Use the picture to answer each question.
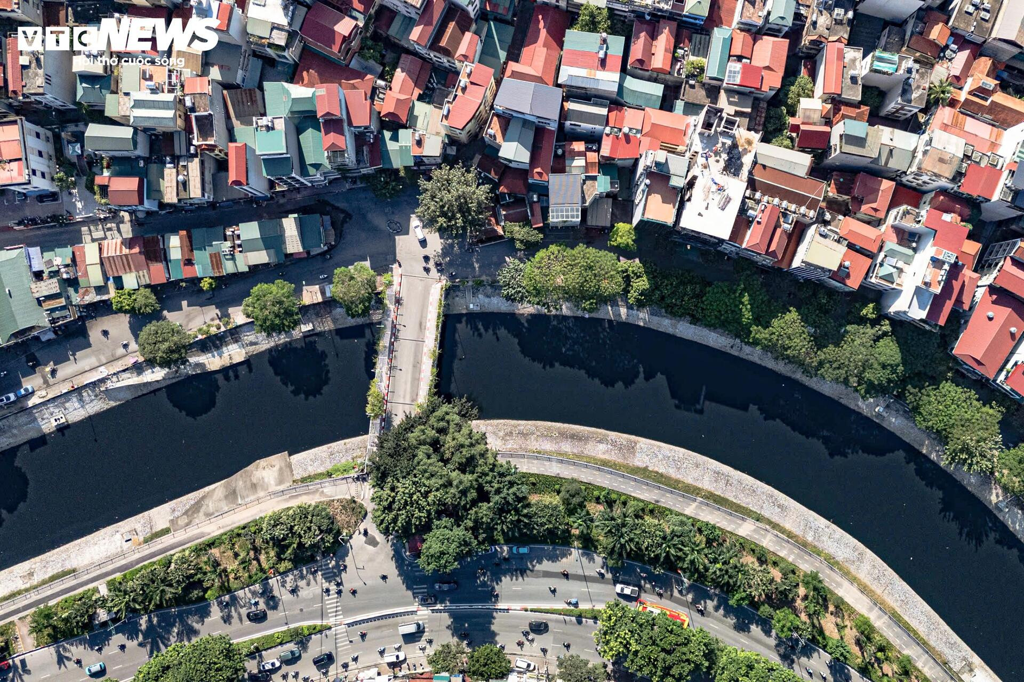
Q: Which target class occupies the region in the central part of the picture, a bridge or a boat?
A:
bridge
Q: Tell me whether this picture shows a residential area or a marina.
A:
residential area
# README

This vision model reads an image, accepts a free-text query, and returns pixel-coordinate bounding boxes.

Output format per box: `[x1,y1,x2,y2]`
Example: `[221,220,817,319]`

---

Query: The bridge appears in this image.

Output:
[366,272,445,476]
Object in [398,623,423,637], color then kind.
white vehicle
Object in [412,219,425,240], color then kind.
white vehicle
